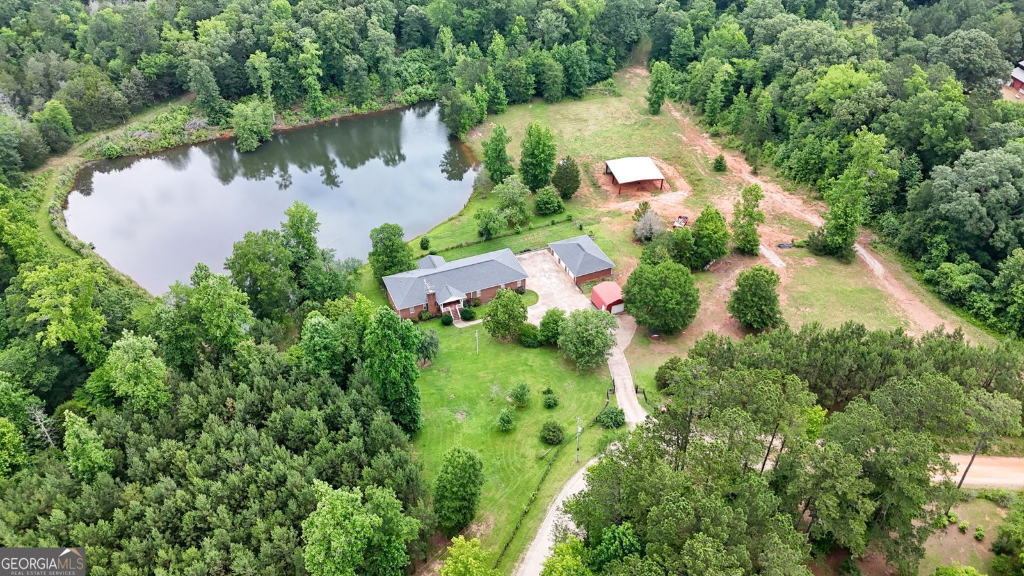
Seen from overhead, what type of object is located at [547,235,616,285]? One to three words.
building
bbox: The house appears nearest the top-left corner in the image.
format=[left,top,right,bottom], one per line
[383,248,530,322]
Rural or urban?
rural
